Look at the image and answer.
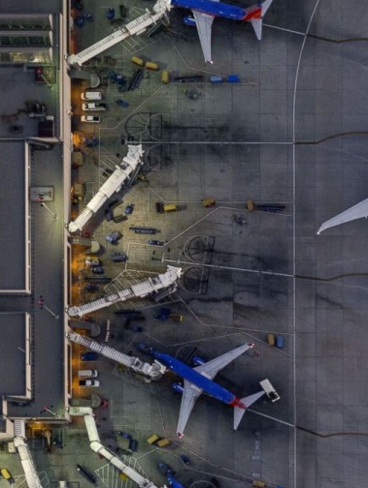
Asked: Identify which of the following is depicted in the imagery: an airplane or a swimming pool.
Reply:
airplane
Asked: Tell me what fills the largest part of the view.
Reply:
paved ground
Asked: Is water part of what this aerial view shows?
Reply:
No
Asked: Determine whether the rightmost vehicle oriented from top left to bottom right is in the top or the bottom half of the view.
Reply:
bottom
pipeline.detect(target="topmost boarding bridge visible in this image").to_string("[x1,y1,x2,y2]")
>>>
[68,0,181,75]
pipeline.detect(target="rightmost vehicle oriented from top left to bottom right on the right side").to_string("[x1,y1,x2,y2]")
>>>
[260,377,281,403]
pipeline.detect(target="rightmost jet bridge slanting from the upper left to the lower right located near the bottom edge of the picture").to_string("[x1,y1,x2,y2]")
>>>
[68,406,177,488]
